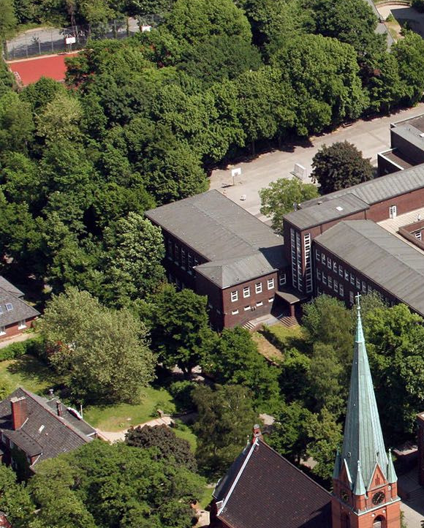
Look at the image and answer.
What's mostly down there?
trees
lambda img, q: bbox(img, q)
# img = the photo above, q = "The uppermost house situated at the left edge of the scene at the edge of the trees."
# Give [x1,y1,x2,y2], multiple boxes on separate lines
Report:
[0,282,40,344]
